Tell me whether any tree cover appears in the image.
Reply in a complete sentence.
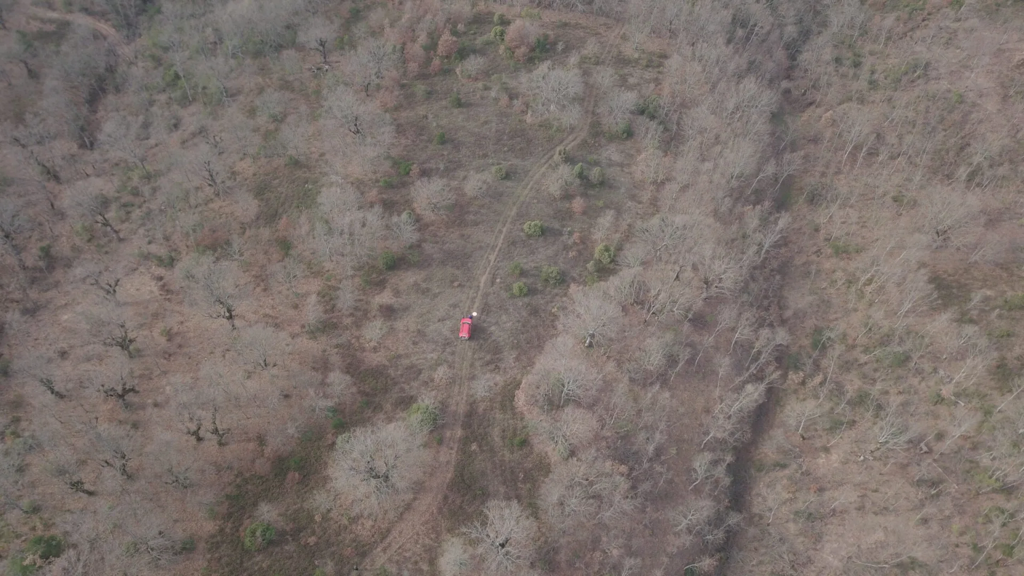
Yes, there's tree cover in this view.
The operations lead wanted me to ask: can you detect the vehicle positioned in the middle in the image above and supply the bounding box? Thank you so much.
[461,319,473,340]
